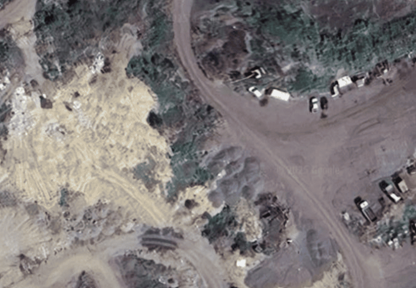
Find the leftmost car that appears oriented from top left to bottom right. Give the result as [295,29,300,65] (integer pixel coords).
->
[247,86,264,100]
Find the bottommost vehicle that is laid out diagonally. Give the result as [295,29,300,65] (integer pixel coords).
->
[357,199,378,227]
